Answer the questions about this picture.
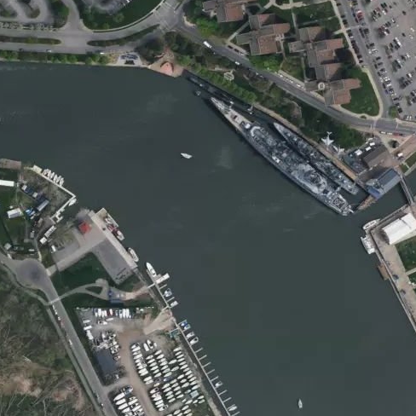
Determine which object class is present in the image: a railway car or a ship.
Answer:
ship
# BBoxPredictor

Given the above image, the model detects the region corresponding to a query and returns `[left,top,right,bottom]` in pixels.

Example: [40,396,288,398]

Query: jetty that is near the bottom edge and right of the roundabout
[142,264,237,416]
